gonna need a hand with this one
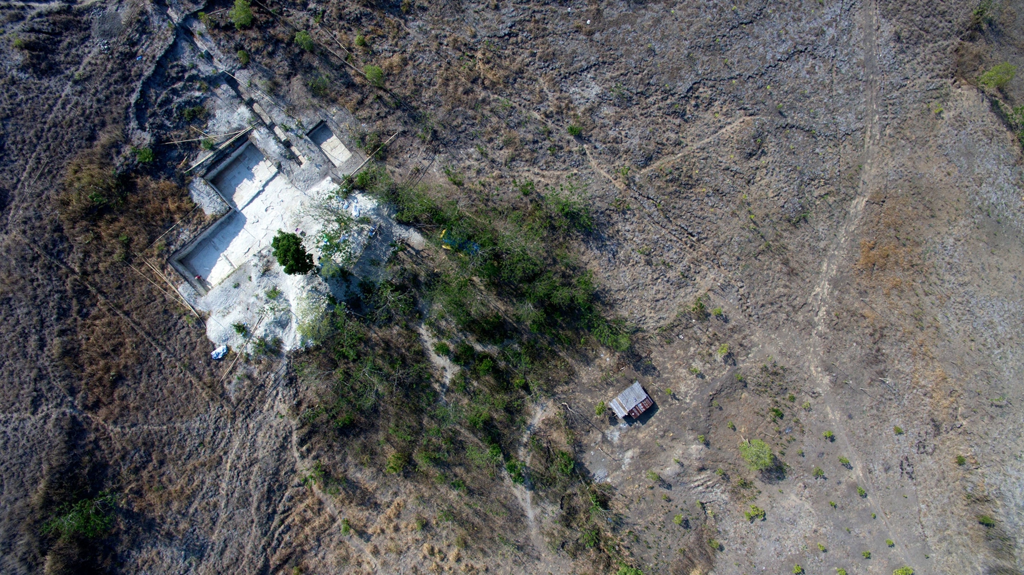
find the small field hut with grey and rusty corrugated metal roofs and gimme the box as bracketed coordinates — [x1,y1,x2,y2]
[608,379,653,419]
